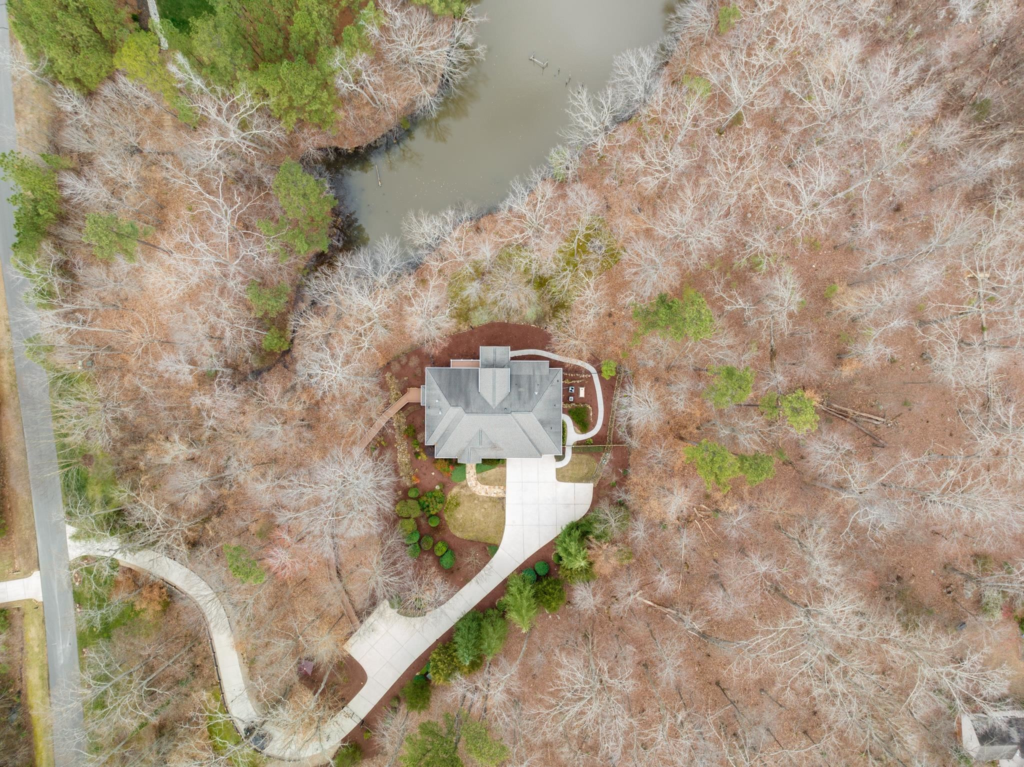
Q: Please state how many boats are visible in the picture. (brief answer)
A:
0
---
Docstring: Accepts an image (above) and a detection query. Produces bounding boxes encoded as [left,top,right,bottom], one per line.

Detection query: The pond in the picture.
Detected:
[302,0,682,288]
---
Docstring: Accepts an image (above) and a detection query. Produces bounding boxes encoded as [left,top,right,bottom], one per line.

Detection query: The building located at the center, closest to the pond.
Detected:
[420,346,563,464]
